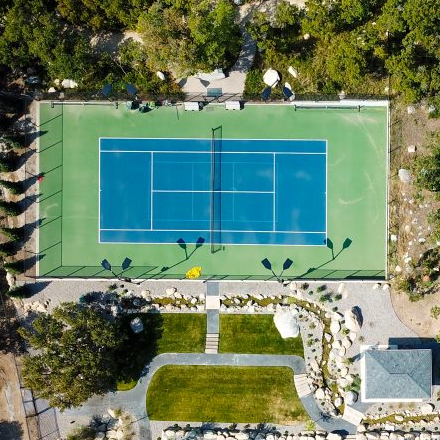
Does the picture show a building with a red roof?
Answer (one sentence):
No, there appears to be no building with a red roof in this shot.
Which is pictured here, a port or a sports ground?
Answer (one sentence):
What you see here is a sports ground.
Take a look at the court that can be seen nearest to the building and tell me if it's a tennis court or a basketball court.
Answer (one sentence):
From above, the court that can be seen nearest to the building can be identified as a tennis court.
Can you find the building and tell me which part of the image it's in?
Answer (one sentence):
You can find the building in the bottom right area of the picture.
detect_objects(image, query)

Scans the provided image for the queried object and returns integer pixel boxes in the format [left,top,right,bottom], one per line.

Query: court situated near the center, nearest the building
[34,99,390,282]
